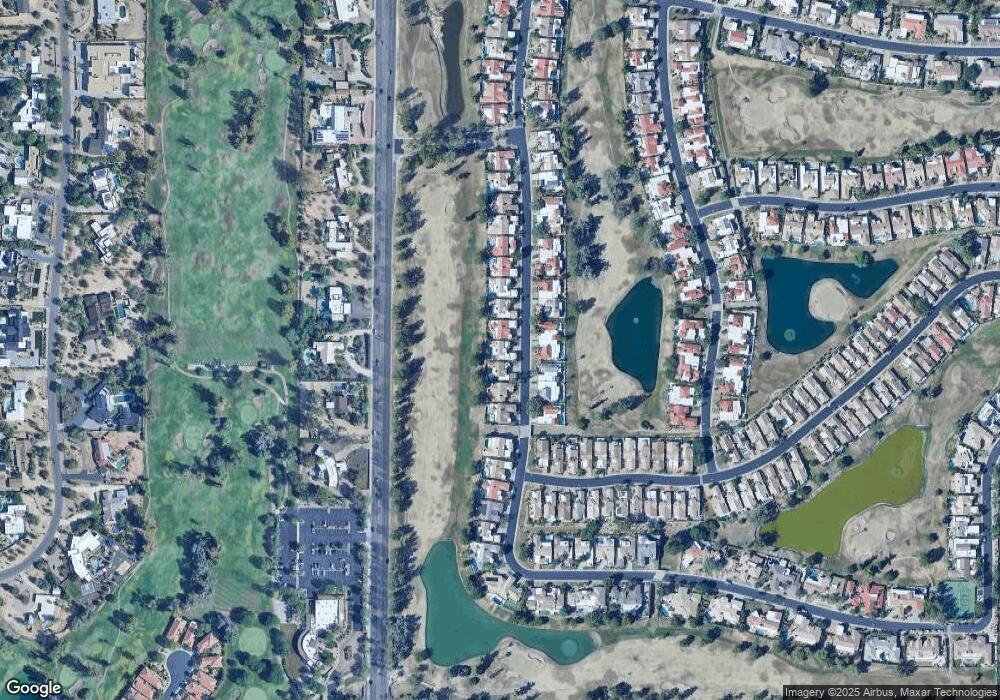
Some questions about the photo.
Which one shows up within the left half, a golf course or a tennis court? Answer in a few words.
golf course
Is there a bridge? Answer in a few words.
No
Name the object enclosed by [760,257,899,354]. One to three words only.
pond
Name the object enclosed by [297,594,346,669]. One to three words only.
building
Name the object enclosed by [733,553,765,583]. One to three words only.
house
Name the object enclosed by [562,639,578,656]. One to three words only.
fountain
